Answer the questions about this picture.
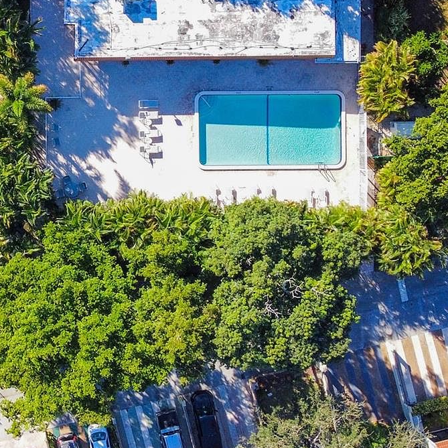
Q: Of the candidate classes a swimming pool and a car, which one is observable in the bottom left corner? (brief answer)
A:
car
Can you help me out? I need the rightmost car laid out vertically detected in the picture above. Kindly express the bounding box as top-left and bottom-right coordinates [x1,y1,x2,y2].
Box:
[190,389,221,448]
